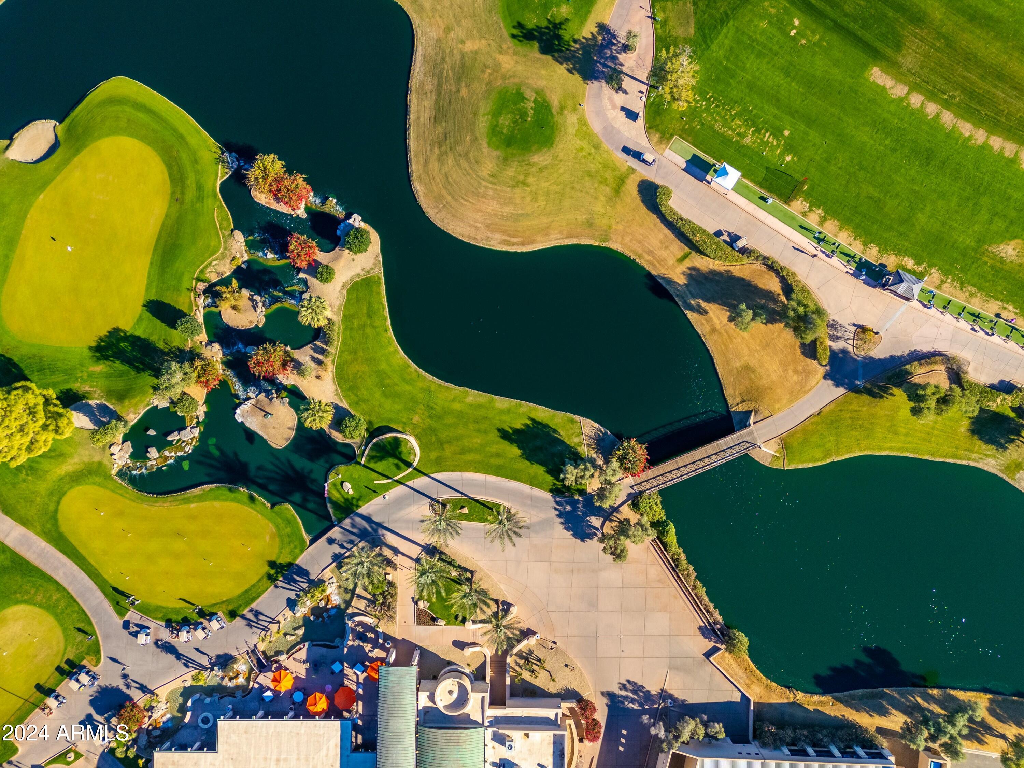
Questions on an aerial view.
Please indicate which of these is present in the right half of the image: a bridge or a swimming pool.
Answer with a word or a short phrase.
bridge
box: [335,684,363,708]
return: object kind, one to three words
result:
umbrella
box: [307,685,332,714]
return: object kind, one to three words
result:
umbrella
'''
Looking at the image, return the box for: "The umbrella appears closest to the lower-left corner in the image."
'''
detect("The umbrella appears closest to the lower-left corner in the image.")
[272,669,294,701]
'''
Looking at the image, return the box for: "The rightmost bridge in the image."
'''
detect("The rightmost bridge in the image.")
[629,423,765,500]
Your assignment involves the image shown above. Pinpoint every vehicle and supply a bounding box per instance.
[178,625,192,642]
[196,624,212,641]
[69,674,89,692]
[78,667,98,685]
[731,237,748,251]
[137,628,151,645]
[210,614,226,631]
[47,691,67,709]
[639,152,656,168]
